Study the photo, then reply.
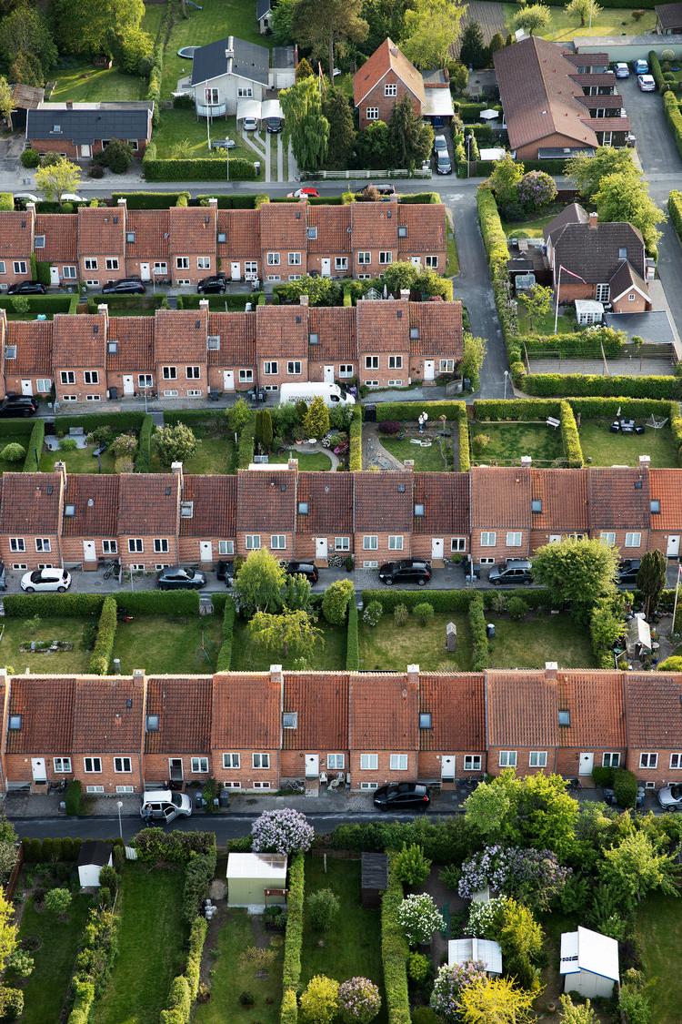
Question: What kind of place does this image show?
residential area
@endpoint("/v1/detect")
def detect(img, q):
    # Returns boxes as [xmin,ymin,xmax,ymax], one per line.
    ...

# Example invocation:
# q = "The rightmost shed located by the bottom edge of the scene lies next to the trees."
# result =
[551,920,617,993]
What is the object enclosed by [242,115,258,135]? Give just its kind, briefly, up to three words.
car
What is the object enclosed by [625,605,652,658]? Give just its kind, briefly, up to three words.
greenhouse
